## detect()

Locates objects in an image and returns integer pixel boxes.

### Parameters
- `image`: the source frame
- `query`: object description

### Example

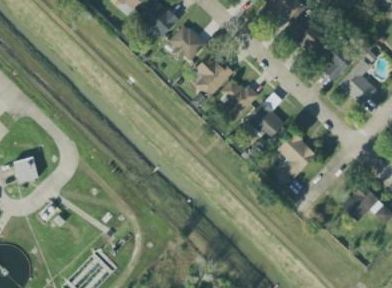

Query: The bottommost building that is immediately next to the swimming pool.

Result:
[350,72,380,102]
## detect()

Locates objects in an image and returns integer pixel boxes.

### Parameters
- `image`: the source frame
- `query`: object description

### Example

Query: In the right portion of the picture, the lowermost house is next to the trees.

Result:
[344,186,392,224]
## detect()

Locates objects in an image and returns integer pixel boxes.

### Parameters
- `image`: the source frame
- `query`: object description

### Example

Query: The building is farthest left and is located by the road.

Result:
[12,156,38,185]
